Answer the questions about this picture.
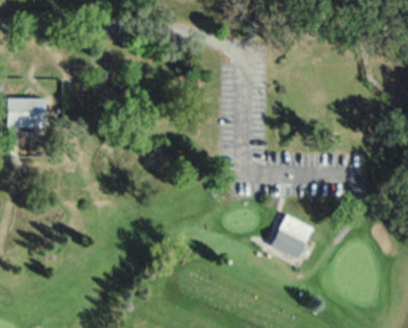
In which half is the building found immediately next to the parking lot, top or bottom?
bottom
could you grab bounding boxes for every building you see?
[270,214,316,260]
[7,98,46,128]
